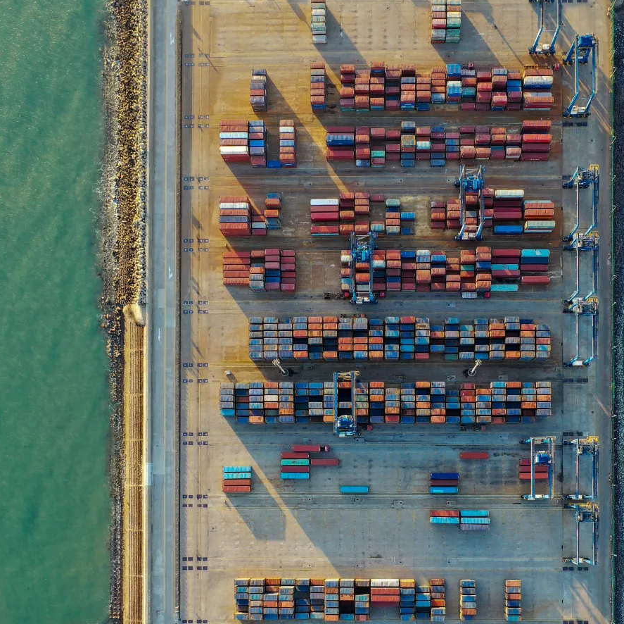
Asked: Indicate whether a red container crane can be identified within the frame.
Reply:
No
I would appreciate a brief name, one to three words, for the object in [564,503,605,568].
container crane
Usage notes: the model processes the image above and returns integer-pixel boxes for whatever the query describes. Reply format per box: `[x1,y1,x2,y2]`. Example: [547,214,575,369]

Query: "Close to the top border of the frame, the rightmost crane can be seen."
[565,30,605,115]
